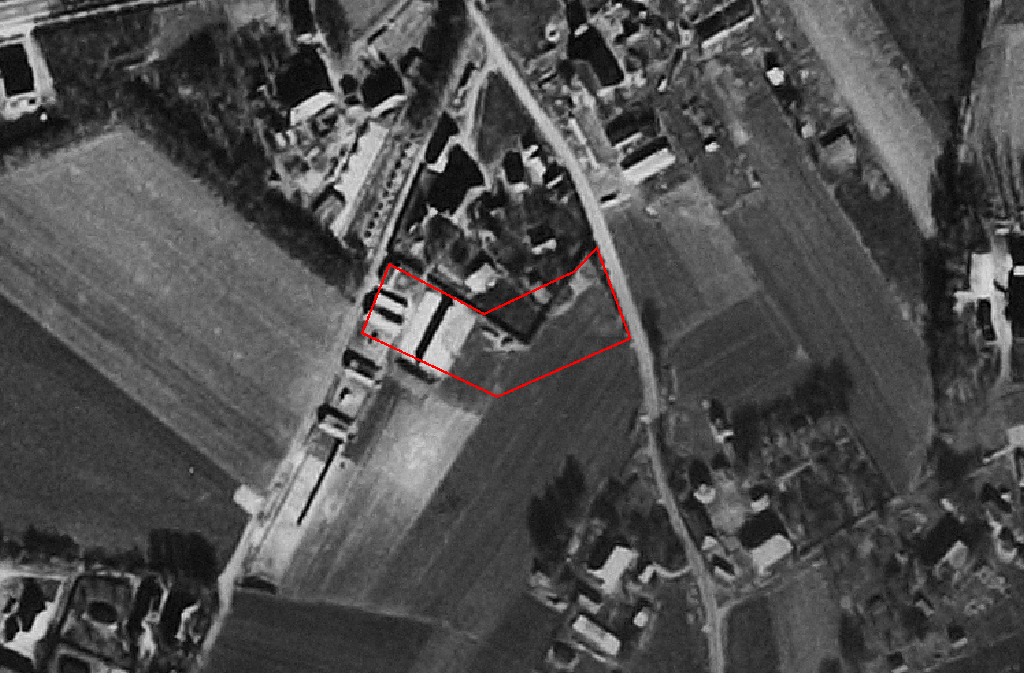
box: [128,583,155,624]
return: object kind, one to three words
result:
shed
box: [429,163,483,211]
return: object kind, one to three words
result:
building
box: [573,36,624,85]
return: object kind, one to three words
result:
barn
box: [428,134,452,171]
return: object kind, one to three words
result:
house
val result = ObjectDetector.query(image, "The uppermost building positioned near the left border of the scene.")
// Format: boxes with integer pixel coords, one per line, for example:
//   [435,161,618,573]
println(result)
[0,50,34,95]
